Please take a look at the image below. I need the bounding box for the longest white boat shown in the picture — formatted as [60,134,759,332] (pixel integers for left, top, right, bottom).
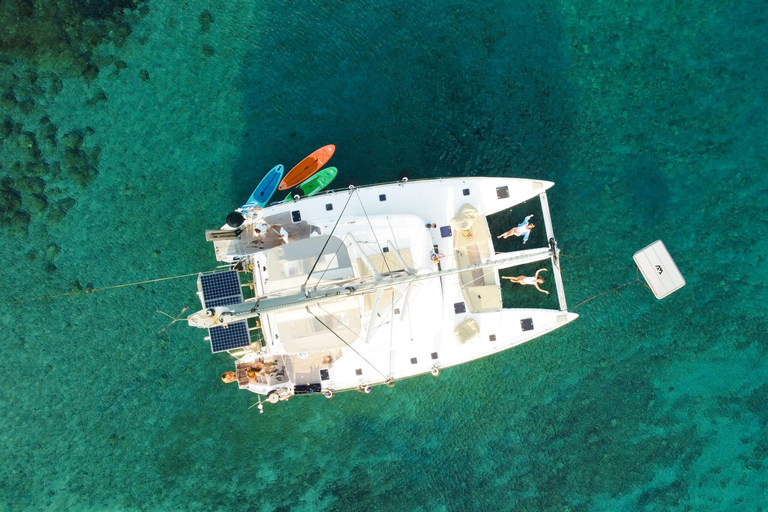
[149,177,578,413]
